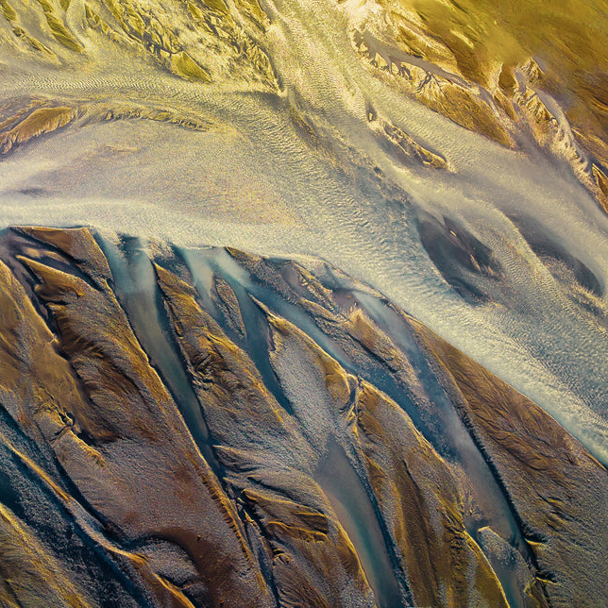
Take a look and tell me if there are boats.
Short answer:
No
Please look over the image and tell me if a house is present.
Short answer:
No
